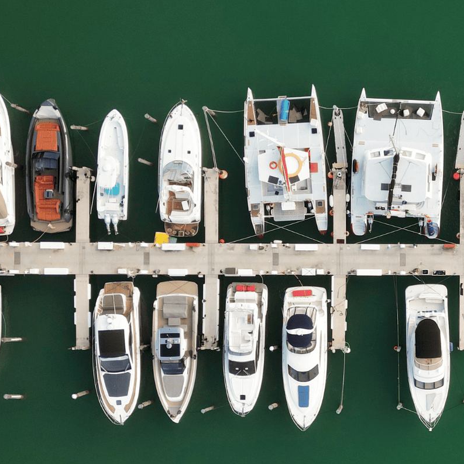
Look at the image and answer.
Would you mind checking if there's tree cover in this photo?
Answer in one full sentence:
No, there is no tree cover in the image.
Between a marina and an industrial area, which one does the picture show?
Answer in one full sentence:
It's a marina.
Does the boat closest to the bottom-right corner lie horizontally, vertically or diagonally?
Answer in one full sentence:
What the image shows is the boat closest to the bottom-right corner lying vertically.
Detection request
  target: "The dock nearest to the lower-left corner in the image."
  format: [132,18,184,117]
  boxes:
[72,274,94,350]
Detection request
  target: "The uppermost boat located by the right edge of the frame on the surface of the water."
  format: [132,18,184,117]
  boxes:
[351,88,443,239]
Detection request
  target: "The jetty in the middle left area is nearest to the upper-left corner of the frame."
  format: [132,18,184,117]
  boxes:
[73,167,94,242]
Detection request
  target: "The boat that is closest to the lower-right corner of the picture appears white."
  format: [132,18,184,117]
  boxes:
[407,284,453,429]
